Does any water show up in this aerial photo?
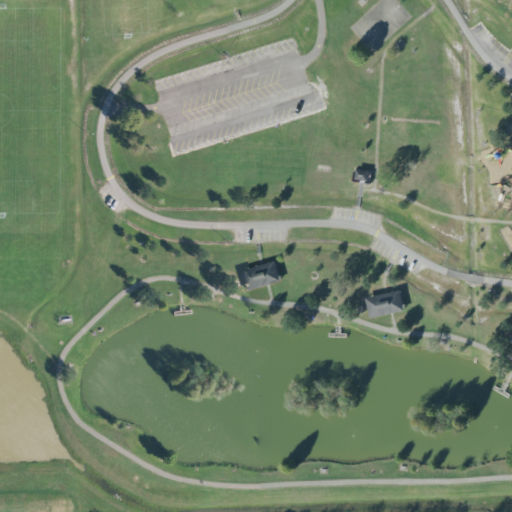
Yes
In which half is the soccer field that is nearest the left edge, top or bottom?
top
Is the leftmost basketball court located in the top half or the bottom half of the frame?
top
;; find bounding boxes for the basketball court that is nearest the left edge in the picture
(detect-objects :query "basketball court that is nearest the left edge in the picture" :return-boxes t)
[351,0,412,52]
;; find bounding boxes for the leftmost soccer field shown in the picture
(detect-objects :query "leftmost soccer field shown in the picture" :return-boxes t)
[0,0,62,215]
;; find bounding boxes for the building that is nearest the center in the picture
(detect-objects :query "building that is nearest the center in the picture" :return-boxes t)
[242,261,282,290]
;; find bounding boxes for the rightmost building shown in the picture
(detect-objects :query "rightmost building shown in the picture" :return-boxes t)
[366,291,404,318]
